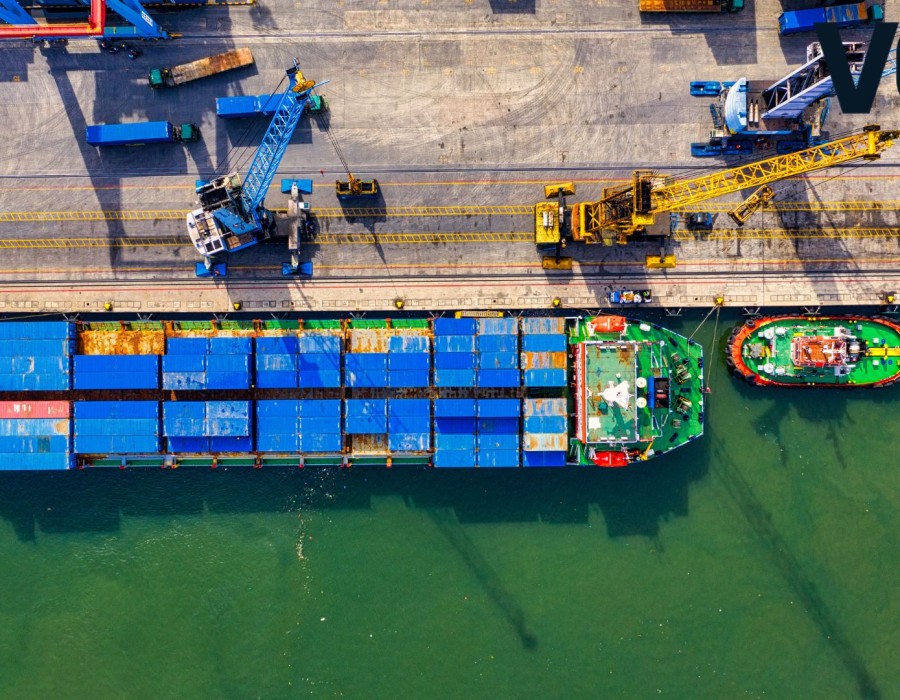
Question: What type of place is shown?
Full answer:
This looks like a port.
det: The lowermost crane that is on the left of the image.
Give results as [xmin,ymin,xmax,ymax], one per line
[188,57,352,278]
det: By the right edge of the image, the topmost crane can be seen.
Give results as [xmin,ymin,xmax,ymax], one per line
[688,40,900,157]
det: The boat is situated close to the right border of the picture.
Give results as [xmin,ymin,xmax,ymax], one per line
[727,315,900,387]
